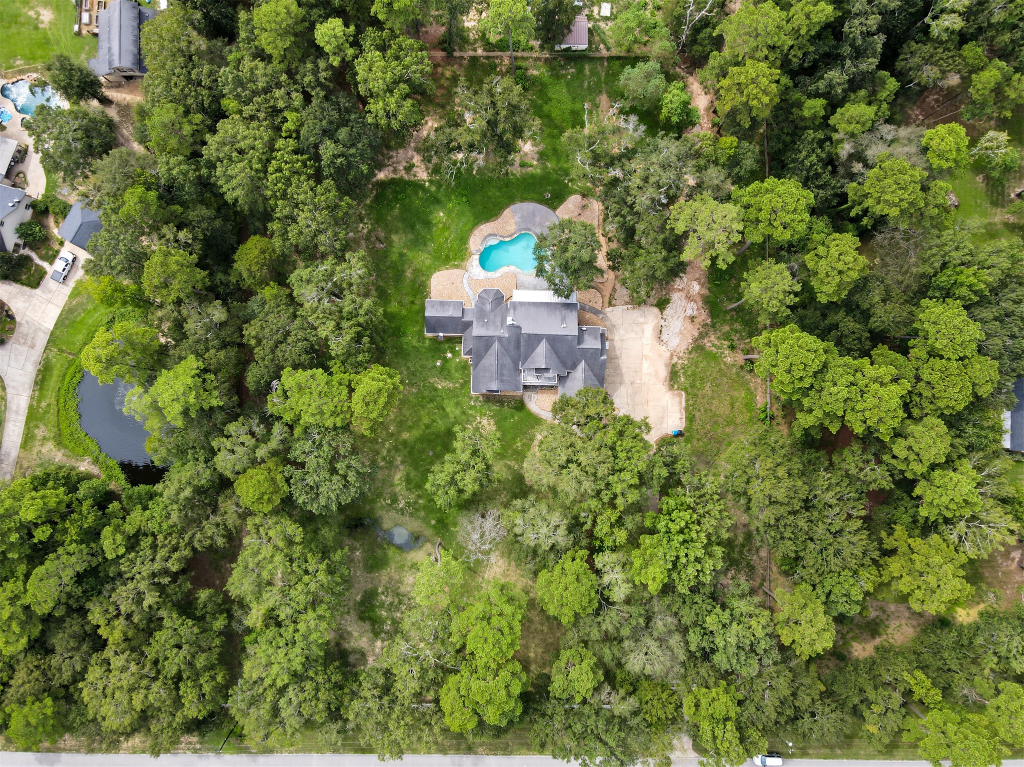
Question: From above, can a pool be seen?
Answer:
Yes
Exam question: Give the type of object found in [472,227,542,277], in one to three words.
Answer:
swimming pool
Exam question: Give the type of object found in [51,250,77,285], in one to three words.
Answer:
truck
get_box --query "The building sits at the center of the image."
[424,288,607,401]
